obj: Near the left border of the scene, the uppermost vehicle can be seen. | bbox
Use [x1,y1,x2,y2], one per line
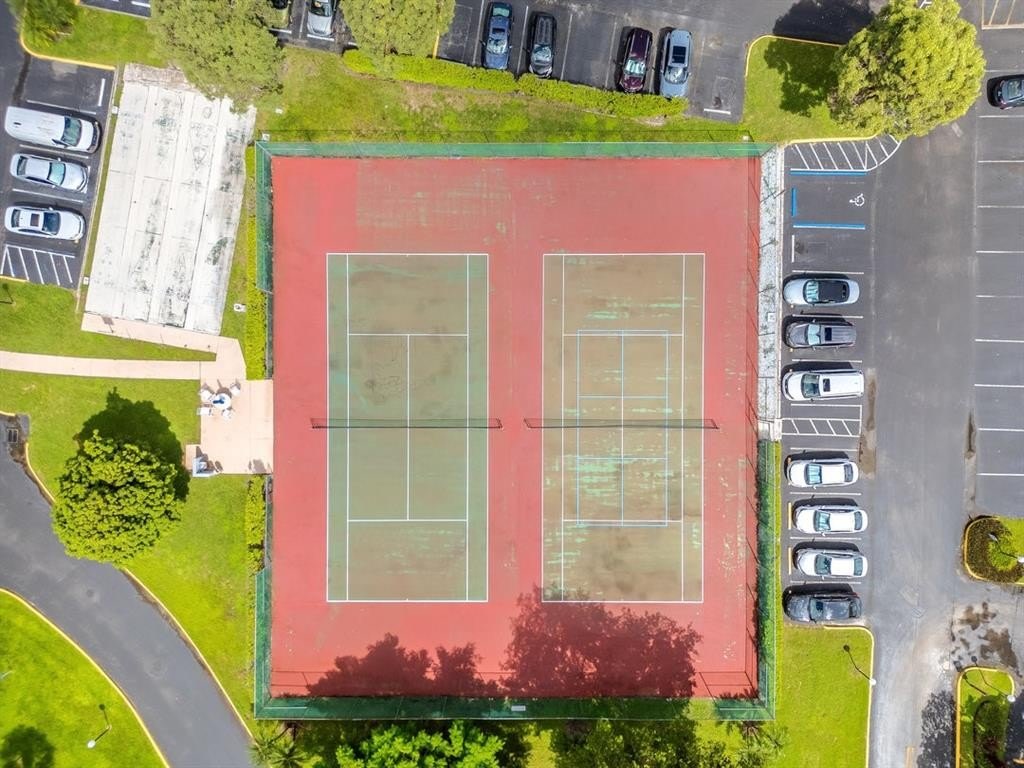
[4,104,103,153]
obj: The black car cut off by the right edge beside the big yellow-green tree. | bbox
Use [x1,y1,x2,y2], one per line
[994,81,1024,113]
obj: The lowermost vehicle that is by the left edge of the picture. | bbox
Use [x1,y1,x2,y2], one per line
[6,207,86,242]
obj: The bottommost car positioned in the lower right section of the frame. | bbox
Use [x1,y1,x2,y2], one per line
[783,590,860,626]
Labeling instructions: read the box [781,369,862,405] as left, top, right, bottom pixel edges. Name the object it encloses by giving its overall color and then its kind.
white car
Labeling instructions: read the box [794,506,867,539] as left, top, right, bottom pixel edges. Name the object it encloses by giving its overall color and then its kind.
white car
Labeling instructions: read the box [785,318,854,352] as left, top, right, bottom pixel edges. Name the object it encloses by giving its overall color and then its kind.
gray car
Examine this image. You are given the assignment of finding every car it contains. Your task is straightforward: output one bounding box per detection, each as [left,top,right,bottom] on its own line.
[783,590,860,626]
[6,207,86,242]
[794,506,867,539]
[994,81,1024,113]
[782,274,859,309]
[481,1,516,75]
[525,13,559,82]
[619,27,656,98]
[785,457,858,490]
[795,548,868,583]
[658,29,694,102]
[11,153,91,193]
[781,369,862,405]
[785,318,854,352]
[306,0,342,41]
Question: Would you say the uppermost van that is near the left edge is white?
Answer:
Yes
